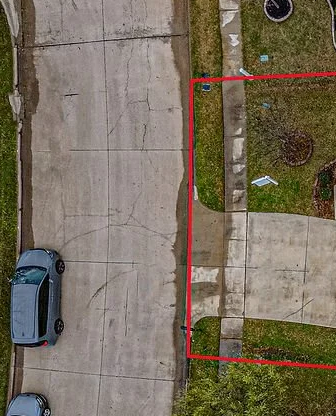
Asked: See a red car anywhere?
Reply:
No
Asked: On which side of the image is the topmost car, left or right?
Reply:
left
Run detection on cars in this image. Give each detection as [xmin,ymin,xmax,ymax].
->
[6,389,53,416]
[12,247,67,346]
